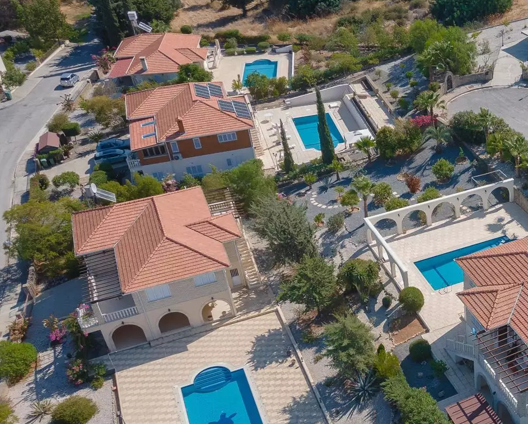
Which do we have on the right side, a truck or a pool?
pool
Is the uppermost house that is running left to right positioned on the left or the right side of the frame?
left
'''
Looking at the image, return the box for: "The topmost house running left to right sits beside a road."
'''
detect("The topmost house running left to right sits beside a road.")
[108,32,229,96]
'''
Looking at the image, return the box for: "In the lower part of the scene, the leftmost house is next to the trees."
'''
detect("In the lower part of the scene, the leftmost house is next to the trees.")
[71,184,274,356]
